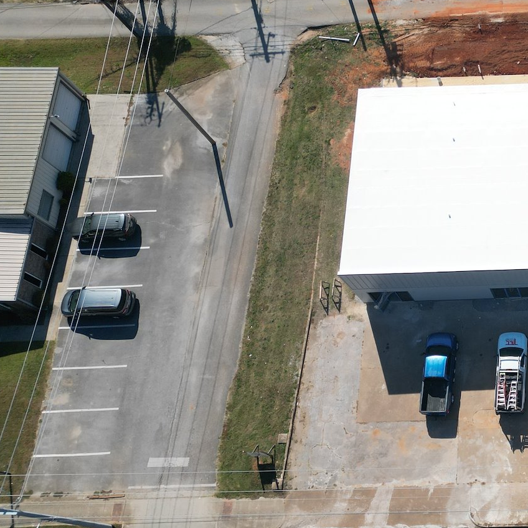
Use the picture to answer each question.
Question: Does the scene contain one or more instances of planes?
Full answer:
No, I can't see a single plane in this photo.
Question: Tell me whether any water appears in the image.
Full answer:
No, no water is visible.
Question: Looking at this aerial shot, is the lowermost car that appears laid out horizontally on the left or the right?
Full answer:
The lowermost car that appears laid out horizontally sits on the left side.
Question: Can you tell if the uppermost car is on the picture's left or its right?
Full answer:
The uppermost car appears in the left half of the scene.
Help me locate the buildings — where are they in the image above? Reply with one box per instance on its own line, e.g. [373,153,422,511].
[0,64,93,317]
[338,74,528,303]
